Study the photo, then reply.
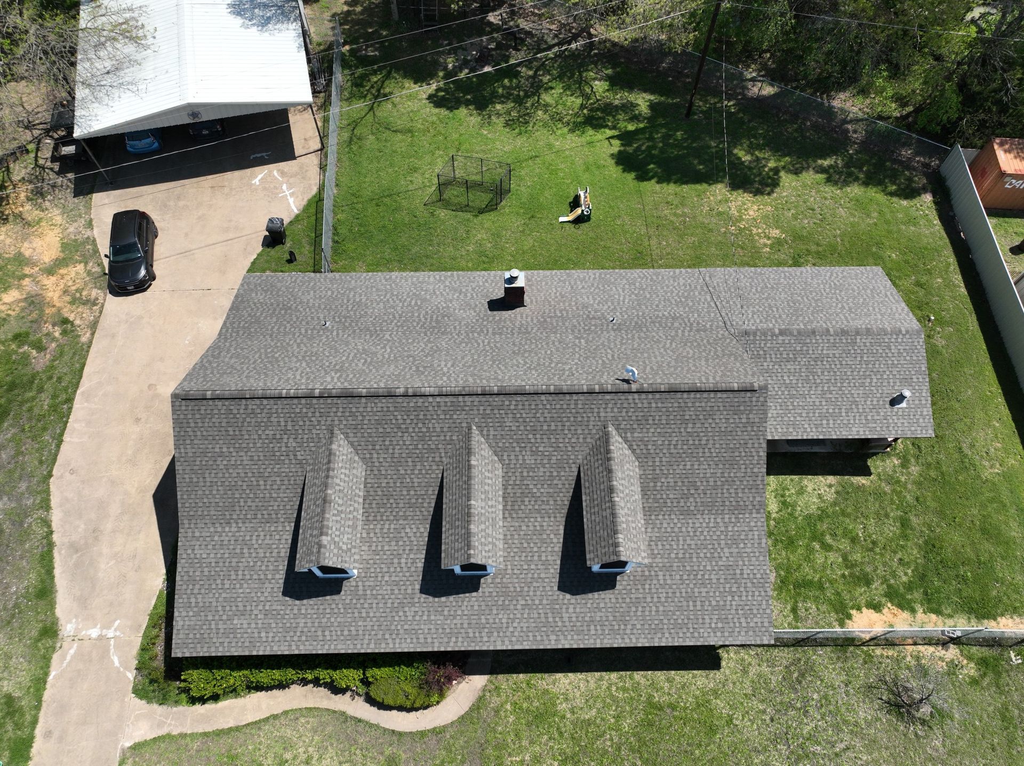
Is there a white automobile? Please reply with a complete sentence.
No, the scene contains no white automobile.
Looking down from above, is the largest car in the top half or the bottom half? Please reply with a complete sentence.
The largest car sits in the top half of the picture.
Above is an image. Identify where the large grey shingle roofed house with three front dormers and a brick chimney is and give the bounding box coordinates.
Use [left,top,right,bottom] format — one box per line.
[171,266,934,658]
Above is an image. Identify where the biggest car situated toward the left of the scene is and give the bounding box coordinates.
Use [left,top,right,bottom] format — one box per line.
[101,206,162,293]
